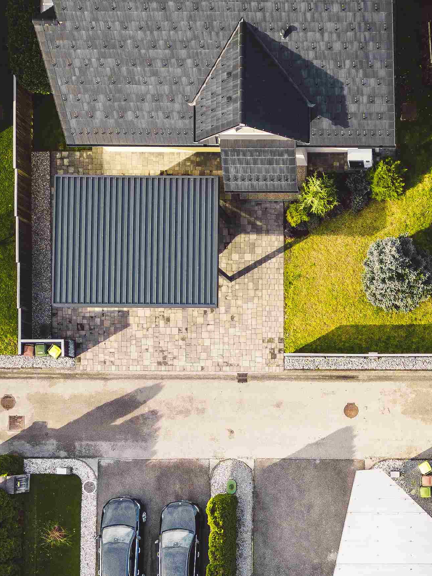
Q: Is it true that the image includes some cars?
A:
Yes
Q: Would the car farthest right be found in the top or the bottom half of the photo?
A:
bottom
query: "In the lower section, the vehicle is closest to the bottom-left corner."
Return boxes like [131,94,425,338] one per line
[95,496,149,576]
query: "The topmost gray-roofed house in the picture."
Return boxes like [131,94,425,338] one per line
[13,0,397,203]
